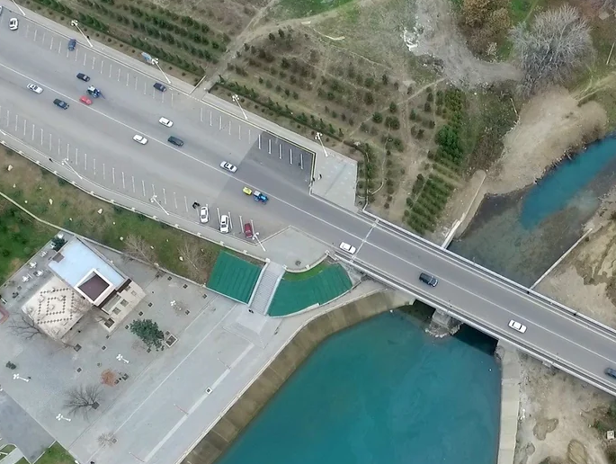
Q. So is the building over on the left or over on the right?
left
